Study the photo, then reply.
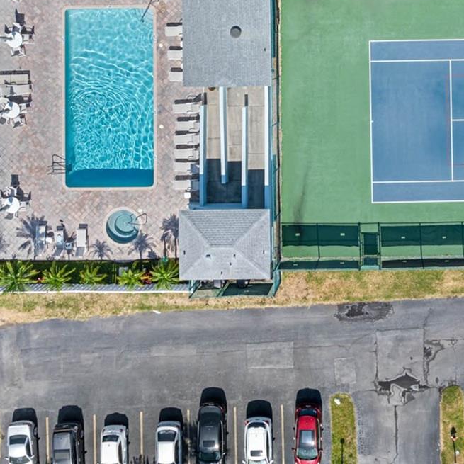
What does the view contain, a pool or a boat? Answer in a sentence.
Looking from above, you can make out a pool.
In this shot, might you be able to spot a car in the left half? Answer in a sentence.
Yes, a car shows up in the left half.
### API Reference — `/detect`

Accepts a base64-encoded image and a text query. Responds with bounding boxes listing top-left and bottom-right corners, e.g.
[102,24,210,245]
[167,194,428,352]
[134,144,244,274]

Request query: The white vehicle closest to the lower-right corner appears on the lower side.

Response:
[244,416,275,464]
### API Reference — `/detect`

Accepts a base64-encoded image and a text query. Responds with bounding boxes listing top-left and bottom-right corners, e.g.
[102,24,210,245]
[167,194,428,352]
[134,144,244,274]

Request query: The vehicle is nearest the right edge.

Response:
[290,405,324,464]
